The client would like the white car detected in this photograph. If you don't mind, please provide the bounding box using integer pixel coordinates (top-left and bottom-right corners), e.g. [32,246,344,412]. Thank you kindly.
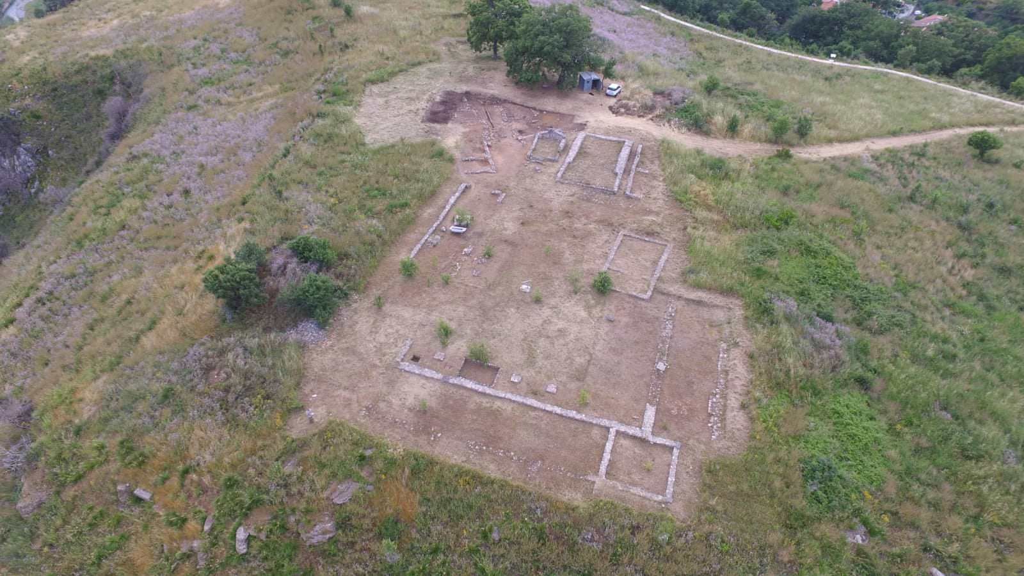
[606,83,620,97]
